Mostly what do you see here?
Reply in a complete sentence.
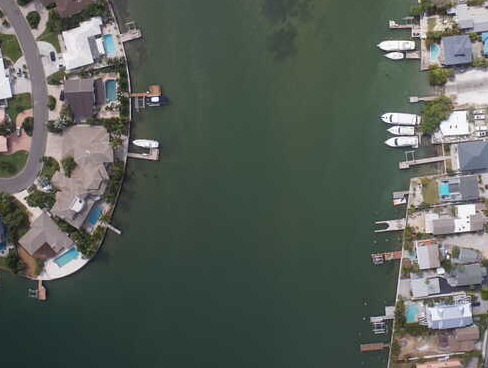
The scene is dominated by water.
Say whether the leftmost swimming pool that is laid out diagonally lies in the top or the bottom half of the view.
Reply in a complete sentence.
Seen from above, the leftmost swimming pool that is laid out diagonally lies in the bottom half of the view.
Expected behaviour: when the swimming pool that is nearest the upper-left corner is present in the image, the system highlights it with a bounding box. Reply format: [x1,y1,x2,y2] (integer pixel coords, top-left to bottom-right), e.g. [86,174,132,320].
[103,33,115,54]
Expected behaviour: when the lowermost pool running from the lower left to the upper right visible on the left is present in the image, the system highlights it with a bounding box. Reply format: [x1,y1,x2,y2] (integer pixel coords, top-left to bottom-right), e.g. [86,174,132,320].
[53,248,80,268]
